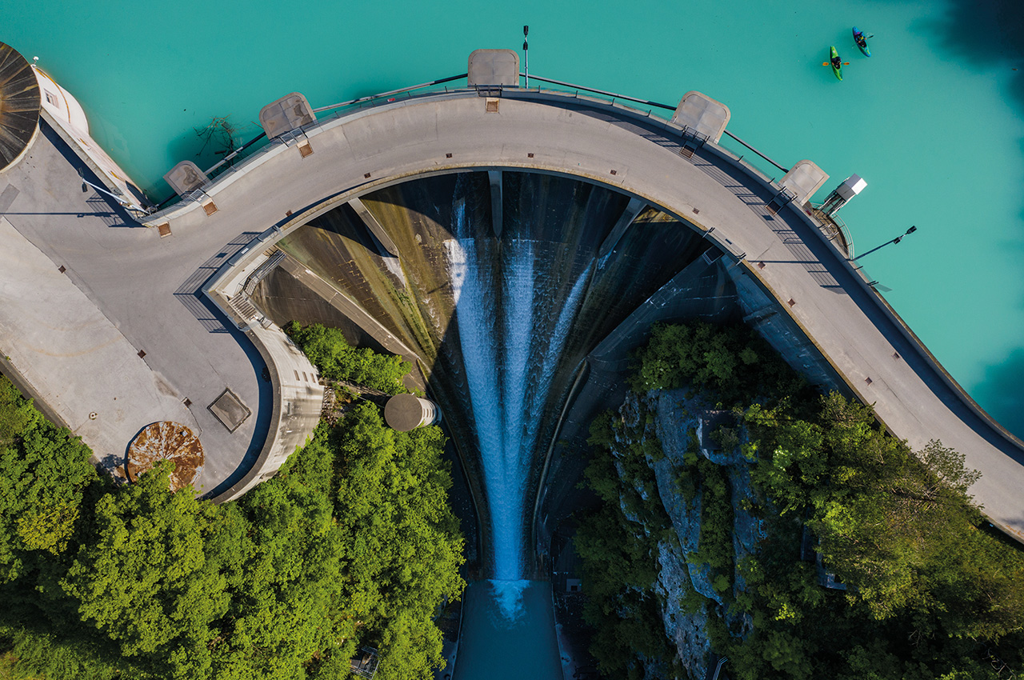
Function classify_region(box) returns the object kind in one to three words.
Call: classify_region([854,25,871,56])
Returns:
boat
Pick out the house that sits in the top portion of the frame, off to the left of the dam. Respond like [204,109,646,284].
[0,42,95,183]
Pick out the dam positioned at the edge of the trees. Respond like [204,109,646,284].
[147,49,1024,582]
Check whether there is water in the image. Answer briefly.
Yes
